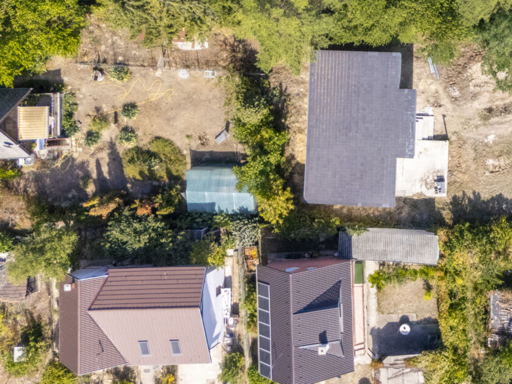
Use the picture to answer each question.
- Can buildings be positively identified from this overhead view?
Yes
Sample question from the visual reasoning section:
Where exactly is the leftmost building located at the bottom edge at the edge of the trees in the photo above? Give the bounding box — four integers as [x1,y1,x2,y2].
[59,254,225,376]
